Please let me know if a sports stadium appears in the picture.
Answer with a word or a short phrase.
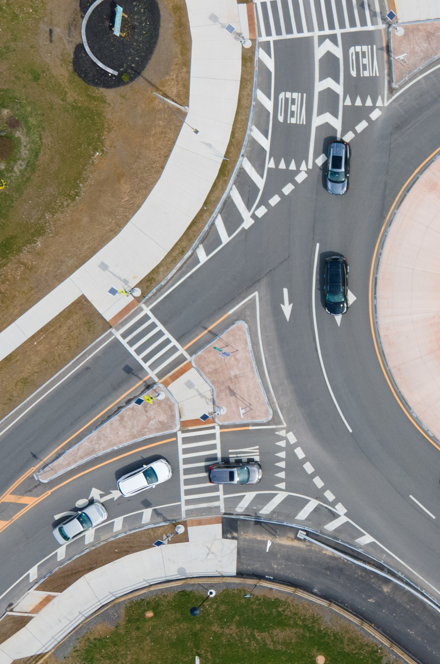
No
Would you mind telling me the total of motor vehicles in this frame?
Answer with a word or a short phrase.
five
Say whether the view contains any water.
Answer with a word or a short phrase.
No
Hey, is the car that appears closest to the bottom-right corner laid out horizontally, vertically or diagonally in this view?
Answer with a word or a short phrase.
horizontally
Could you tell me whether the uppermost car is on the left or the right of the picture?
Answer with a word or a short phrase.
right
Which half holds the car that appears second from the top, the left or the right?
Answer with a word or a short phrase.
right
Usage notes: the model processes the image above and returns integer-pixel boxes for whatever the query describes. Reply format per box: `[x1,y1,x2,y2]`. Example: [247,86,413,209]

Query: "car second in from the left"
[116,458,175,498]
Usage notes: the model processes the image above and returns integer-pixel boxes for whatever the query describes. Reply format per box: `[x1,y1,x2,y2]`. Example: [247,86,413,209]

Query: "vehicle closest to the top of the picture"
[323,140,352,196]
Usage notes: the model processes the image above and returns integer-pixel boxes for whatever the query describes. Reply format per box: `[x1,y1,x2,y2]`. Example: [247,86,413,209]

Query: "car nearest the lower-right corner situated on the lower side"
[206,459,264,488]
